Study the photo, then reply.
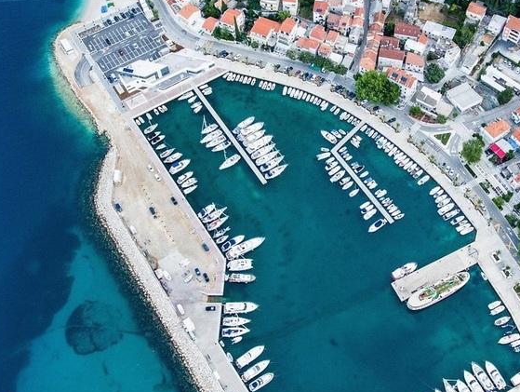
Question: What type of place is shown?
port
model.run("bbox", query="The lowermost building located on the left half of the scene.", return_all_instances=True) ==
[117,59,216,93]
